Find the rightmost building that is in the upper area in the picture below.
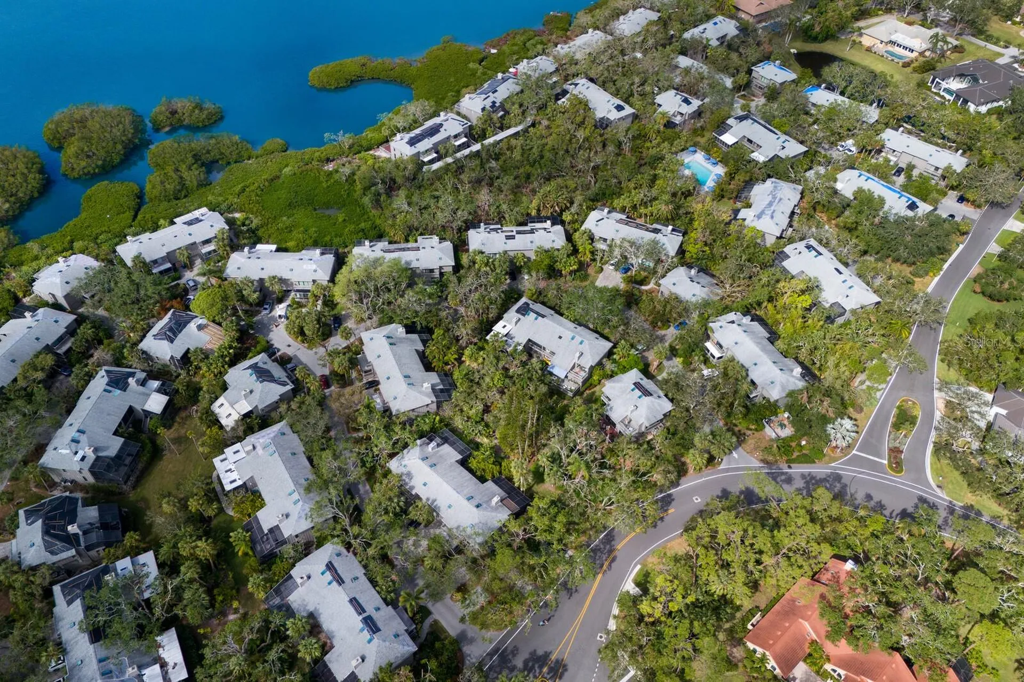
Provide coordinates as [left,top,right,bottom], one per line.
[924,61,1024,118]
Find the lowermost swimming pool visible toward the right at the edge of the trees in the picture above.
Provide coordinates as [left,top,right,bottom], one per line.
[678,147,728,190]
